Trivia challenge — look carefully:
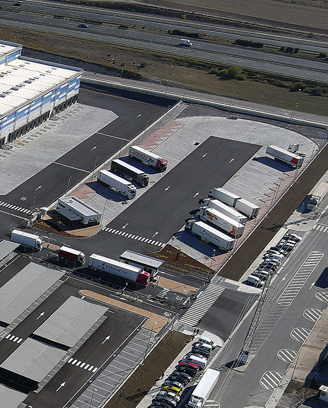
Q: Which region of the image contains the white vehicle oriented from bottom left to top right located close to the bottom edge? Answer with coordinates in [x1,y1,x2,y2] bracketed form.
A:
[184,364,221,408]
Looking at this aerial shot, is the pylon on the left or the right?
right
